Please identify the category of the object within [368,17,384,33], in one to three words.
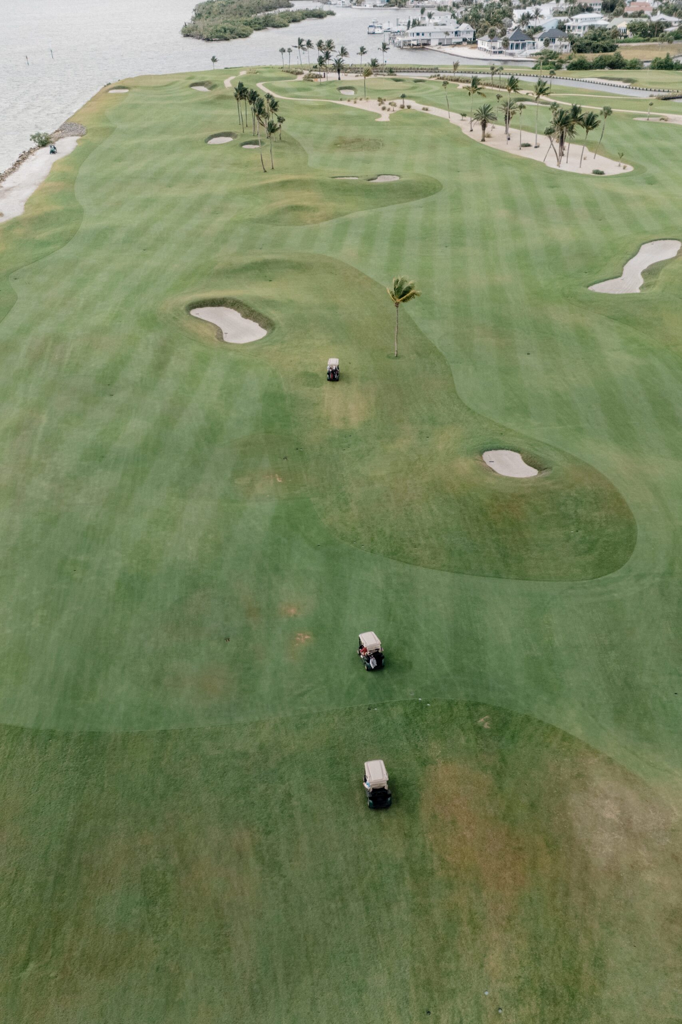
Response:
boat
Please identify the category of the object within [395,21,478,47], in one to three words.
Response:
house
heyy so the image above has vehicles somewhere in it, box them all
[327,358,339,380]
[359,631,389,672]
[47,144,57,154]
[366,761,394,810]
